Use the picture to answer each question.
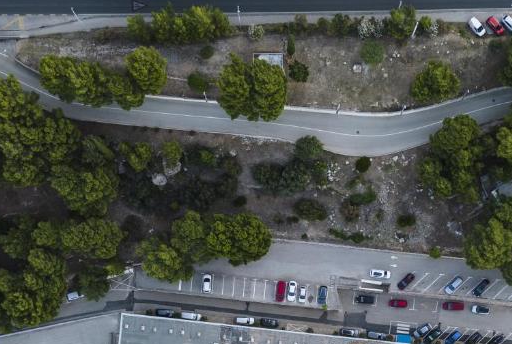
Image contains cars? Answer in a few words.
Yes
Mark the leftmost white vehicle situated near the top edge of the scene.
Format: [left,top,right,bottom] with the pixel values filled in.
[468,16,486,37]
